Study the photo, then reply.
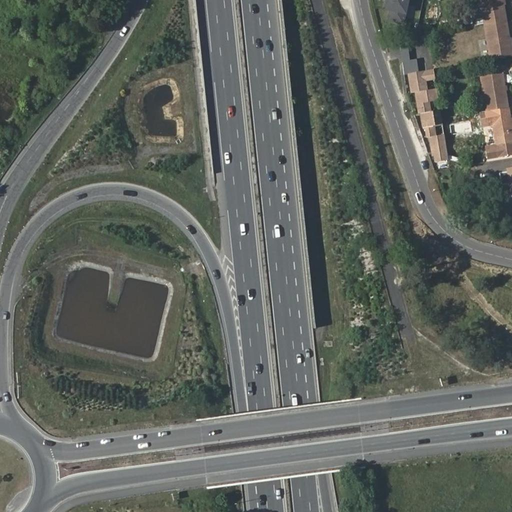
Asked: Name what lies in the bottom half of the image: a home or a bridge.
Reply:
bridge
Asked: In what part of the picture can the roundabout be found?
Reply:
bottom left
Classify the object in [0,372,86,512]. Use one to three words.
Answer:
roundabout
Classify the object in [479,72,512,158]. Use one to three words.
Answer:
house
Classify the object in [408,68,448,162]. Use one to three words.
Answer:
house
